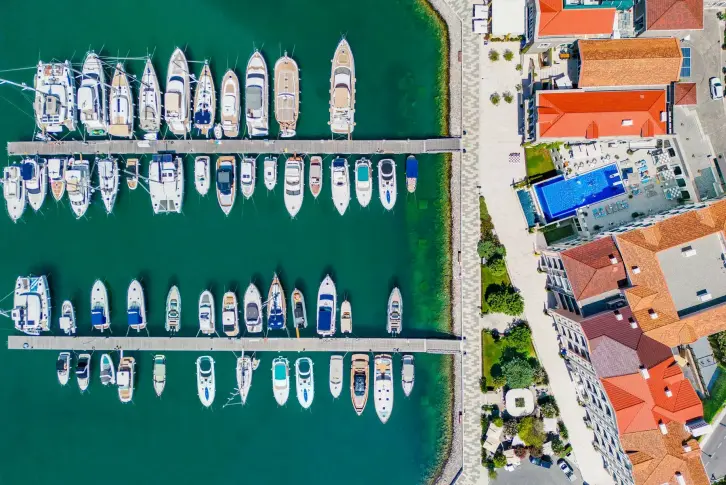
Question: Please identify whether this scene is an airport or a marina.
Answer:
marina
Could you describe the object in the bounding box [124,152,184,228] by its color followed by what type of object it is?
white boat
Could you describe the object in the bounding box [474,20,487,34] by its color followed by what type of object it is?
white umbrella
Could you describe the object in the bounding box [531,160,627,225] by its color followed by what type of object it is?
blue swimming pool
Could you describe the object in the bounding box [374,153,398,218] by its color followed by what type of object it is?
white boat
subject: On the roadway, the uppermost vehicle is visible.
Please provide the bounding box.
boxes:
[710,79,722,99]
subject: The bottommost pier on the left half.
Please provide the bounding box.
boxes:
[8,335,462,352]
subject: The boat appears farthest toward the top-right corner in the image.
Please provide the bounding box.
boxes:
[402,153,419,201]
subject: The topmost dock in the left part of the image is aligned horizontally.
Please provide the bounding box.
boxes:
[7,138,463,156]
